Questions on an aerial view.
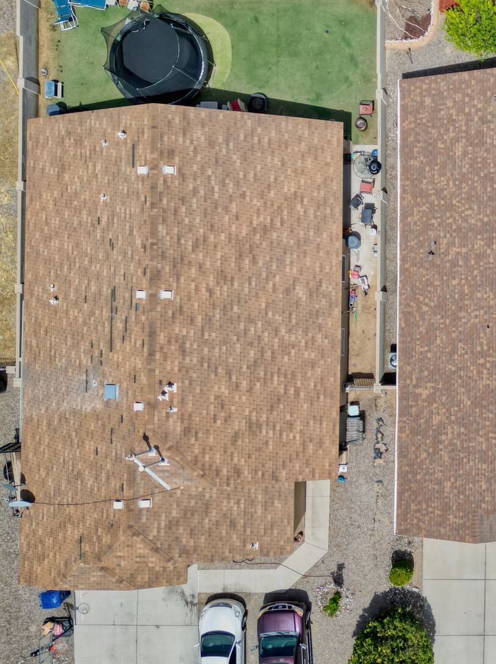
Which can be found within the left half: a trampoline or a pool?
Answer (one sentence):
Looking within the left half, you will find a trampoline.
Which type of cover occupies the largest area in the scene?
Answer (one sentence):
The scene is dominated by buildings.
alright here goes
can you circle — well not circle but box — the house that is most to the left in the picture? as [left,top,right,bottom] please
[17,103,353,594]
